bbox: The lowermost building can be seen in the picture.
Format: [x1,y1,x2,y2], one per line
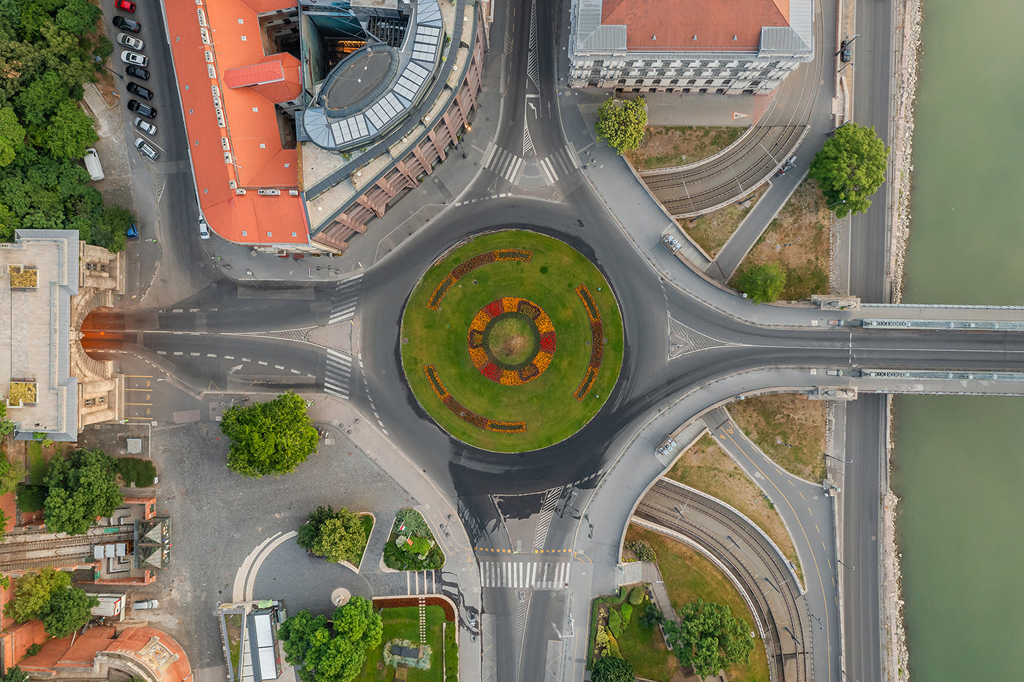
[244,607,285,682]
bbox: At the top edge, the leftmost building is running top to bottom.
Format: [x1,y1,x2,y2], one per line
[160,0,328,257]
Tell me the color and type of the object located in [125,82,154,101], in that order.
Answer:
black car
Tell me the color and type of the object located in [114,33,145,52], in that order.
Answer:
gray car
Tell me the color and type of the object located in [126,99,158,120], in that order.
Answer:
black car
